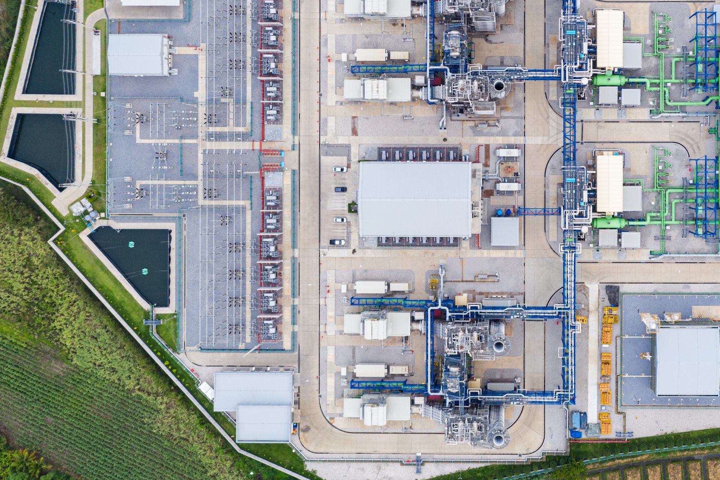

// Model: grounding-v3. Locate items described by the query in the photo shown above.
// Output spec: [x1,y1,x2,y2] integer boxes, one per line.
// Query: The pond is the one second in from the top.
[0,107,82,197]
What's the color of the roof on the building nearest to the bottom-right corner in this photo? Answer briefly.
white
